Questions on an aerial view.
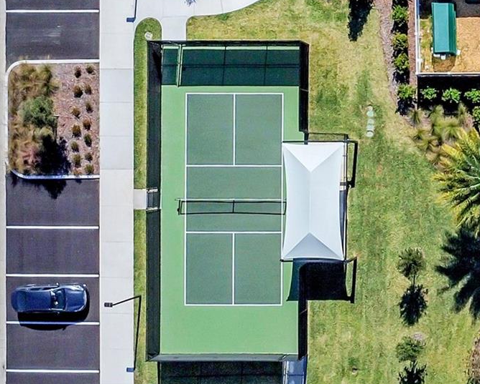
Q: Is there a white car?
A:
No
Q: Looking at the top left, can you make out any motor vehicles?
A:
No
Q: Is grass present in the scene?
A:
Yes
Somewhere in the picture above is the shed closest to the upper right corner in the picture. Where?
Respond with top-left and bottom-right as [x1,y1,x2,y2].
[431,1,459,55]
